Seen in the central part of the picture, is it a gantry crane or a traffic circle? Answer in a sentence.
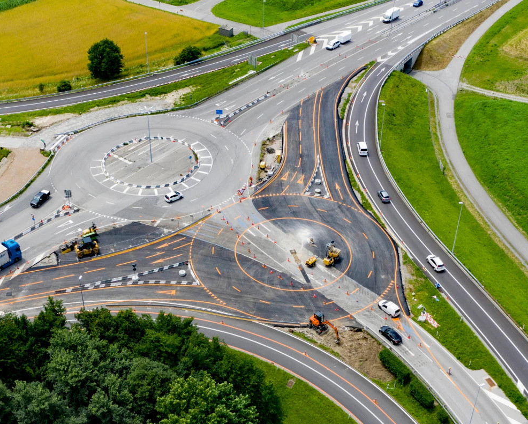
There is a traffic circle in the central part of the picture.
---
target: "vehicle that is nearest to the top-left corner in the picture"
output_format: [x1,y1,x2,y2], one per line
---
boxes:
[30,191,50,207]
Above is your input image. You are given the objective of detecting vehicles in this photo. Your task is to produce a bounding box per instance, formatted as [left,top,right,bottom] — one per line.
[357,144,366,156]
[30,191,50,207]
[383,6,400,21]
[413,0,424,7]
[376,191,391,204]
[73,240,101,260]
[377,301,401,319]
[326,39,340,50]
[164,192,183,203]
[425,256,446,272]
[378,327,404,345]
[0,245,20,270]
[322,247,343,266]
[308,313,333,343]
[82,231,98,241]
